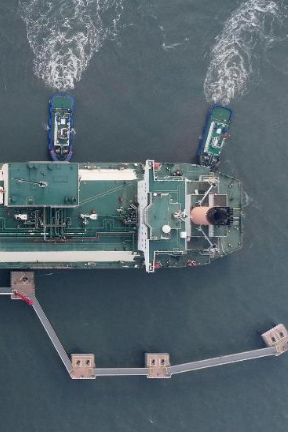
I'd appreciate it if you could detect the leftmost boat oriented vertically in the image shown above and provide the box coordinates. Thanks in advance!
[48,92,74,161]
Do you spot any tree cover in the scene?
No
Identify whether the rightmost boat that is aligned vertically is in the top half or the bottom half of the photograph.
top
